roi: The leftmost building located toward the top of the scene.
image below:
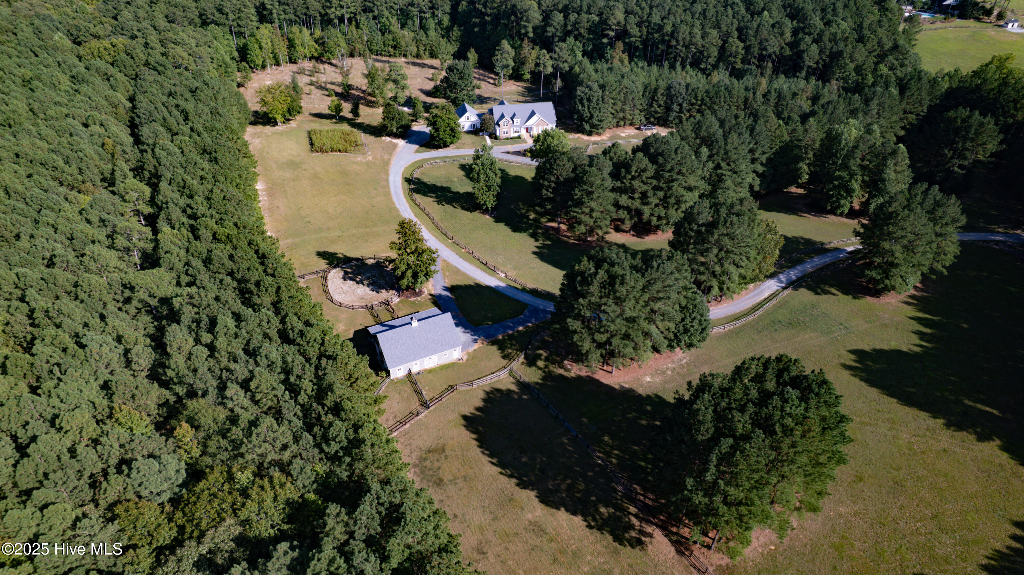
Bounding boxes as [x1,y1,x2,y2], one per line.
[456,99,556,139]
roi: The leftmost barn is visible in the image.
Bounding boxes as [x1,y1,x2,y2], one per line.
[366,309,463,380]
